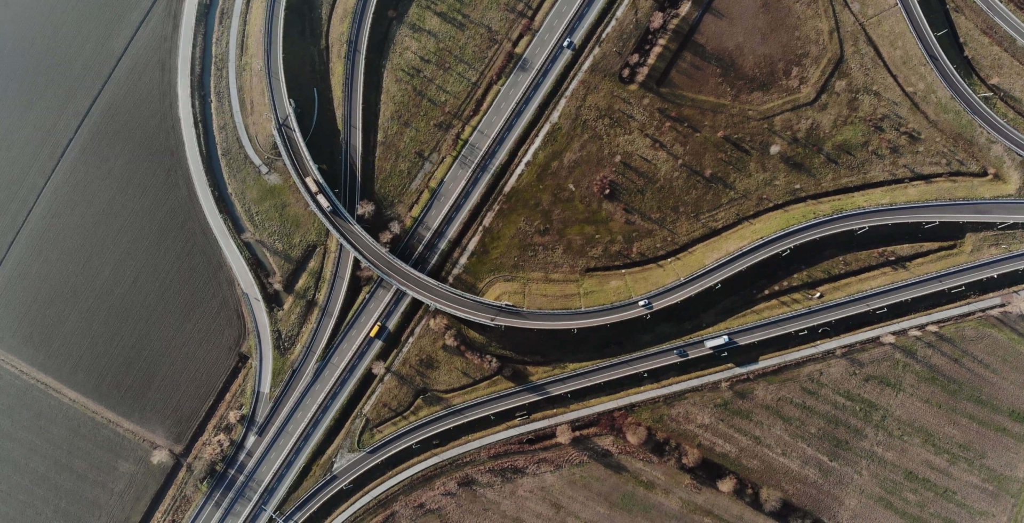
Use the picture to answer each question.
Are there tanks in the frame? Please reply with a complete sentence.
No, I can see no tank in this picture.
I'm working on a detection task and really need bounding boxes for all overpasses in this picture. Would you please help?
[272,110,504,325]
